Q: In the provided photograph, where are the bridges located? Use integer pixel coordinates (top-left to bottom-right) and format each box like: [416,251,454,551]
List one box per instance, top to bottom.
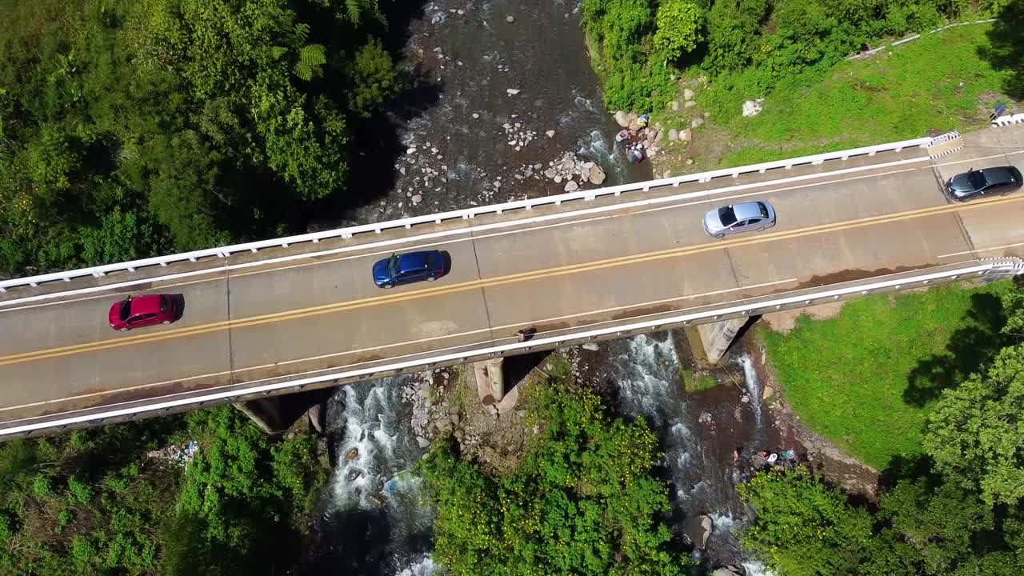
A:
[0,136,1024,479]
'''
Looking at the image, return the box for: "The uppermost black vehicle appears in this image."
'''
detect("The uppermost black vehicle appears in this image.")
[946,167,1021,203]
